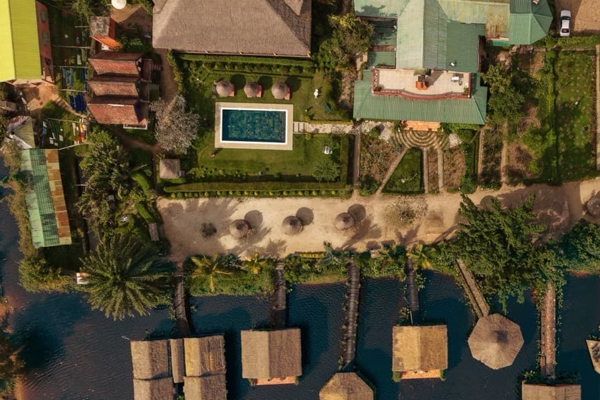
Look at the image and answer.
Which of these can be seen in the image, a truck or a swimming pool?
swimming pool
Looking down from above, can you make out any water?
Yes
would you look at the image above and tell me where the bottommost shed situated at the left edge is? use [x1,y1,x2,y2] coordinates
[21,150,79,247]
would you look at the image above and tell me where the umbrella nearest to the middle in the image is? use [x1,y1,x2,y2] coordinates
[282,214,303,235]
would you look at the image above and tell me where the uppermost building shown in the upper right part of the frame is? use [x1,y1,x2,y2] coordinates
[353,0,552,125]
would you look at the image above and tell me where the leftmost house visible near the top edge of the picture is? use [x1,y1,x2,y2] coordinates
[0,0,62,89]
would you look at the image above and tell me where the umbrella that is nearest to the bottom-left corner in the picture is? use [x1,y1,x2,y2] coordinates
[231,217,251,238]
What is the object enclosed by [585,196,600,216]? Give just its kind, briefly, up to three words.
umbrella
